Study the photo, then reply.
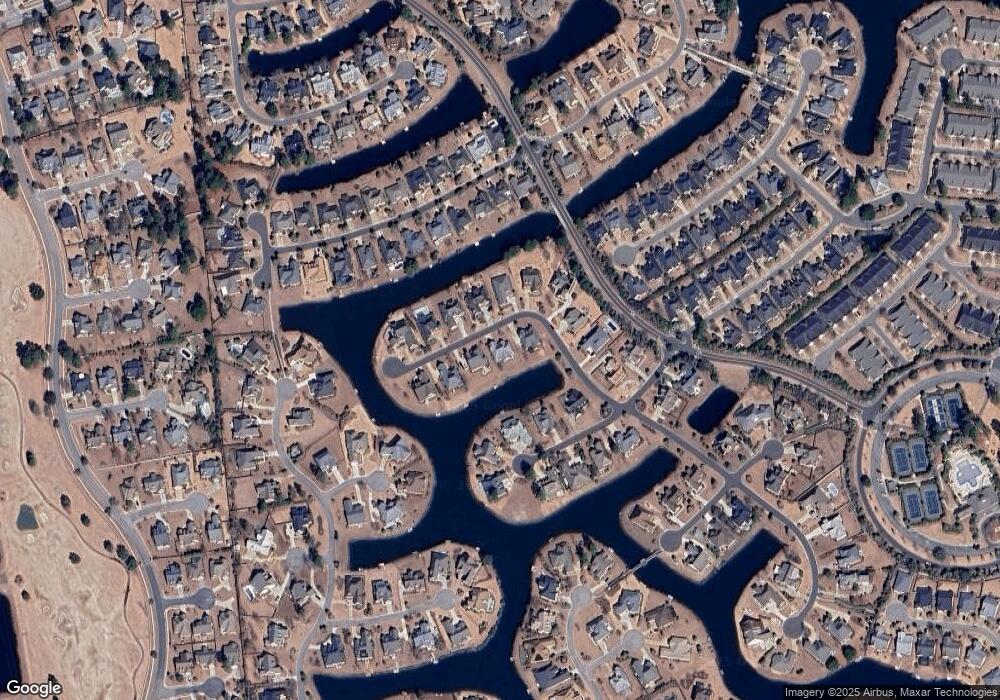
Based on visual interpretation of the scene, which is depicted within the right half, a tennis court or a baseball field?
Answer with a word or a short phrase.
tennis court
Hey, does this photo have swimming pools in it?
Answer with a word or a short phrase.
Yes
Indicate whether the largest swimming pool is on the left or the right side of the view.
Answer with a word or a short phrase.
right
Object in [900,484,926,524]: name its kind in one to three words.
tennis court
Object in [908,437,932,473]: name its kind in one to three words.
tennis court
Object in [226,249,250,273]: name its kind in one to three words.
house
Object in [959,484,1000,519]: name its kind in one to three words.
building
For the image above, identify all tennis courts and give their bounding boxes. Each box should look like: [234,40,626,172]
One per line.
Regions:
[900,484,926,524]
[942,390,965,426]
[920,480,945,519]
[908,437,932,473]
[891,440,915,476]
[925,394,947,427]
